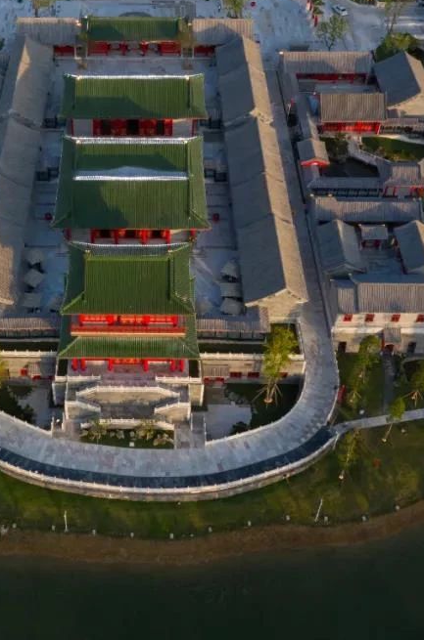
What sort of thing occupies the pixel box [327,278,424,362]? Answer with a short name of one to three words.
building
